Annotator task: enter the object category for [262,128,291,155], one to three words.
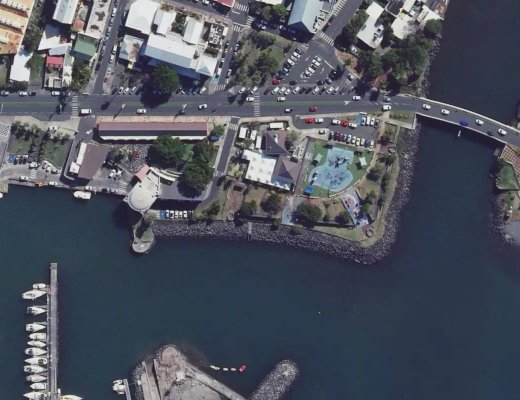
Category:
building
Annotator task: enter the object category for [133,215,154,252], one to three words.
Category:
pier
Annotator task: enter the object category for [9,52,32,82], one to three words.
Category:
house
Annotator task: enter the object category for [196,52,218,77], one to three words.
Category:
house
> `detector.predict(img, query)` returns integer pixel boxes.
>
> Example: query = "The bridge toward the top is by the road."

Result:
[416,97,520,151]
